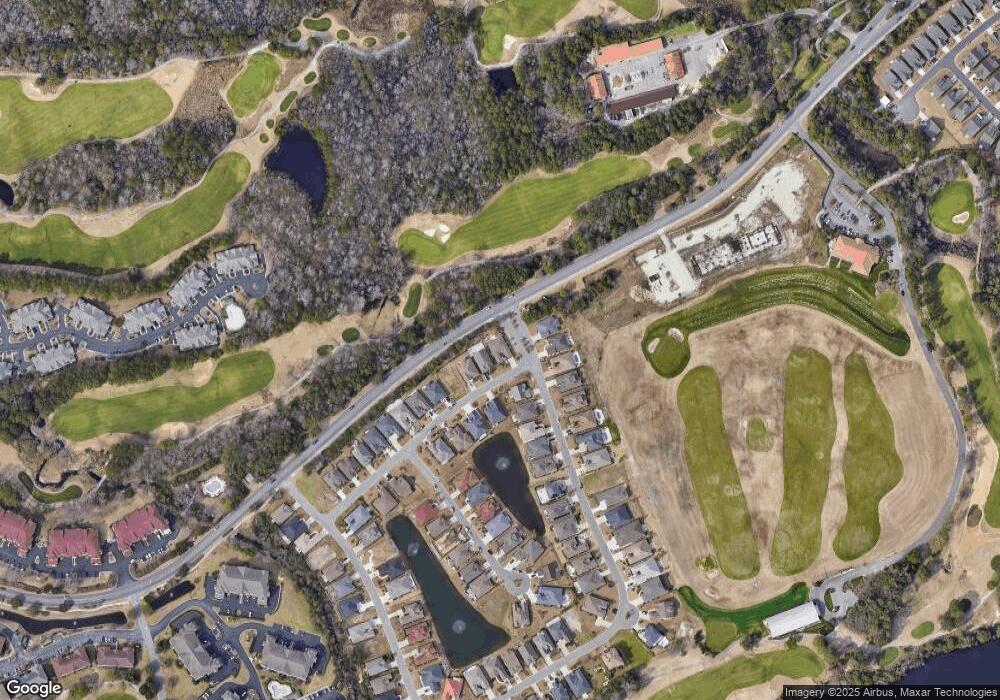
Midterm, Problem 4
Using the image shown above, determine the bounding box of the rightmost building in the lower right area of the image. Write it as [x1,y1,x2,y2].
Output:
[765,601,819,638]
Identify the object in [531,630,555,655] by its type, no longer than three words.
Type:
house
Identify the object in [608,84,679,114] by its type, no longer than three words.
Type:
shed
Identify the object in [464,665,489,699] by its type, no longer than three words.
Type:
house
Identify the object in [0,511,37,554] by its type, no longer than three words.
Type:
building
